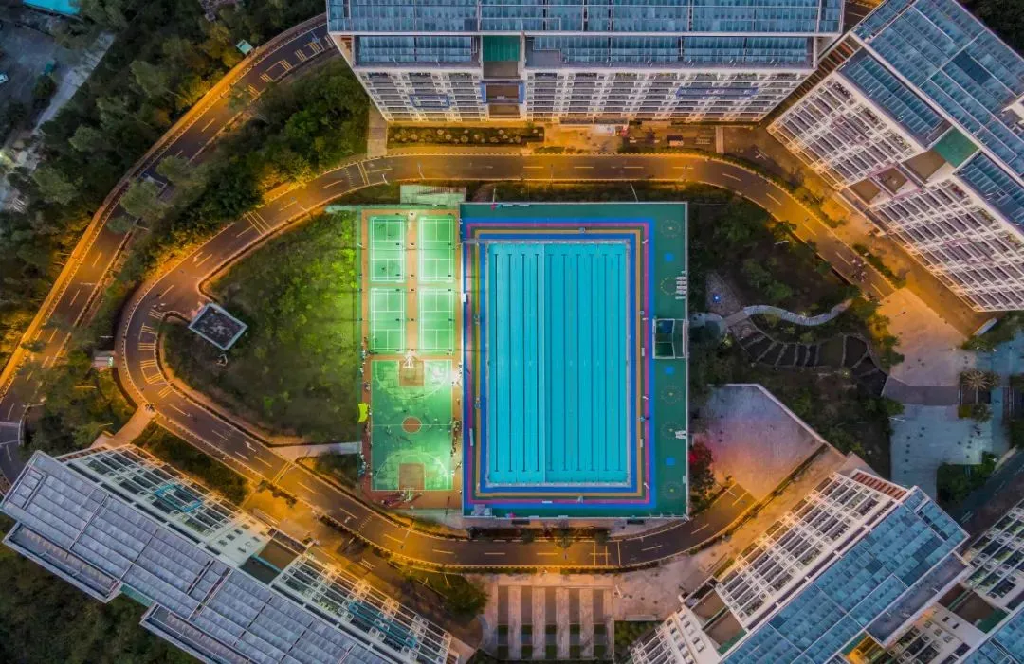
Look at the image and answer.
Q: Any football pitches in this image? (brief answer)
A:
No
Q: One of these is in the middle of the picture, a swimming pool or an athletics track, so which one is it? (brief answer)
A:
swimming pool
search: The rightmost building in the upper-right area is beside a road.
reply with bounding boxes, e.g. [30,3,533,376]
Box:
[770,0,1024,312]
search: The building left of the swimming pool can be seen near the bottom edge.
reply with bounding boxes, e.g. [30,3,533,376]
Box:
[0,438,461,664]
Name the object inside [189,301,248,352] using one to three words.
building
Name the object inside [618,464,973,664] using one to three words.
building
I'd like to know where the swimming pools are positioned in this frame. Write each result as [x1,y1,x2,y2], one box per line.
[459,200,691,521]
